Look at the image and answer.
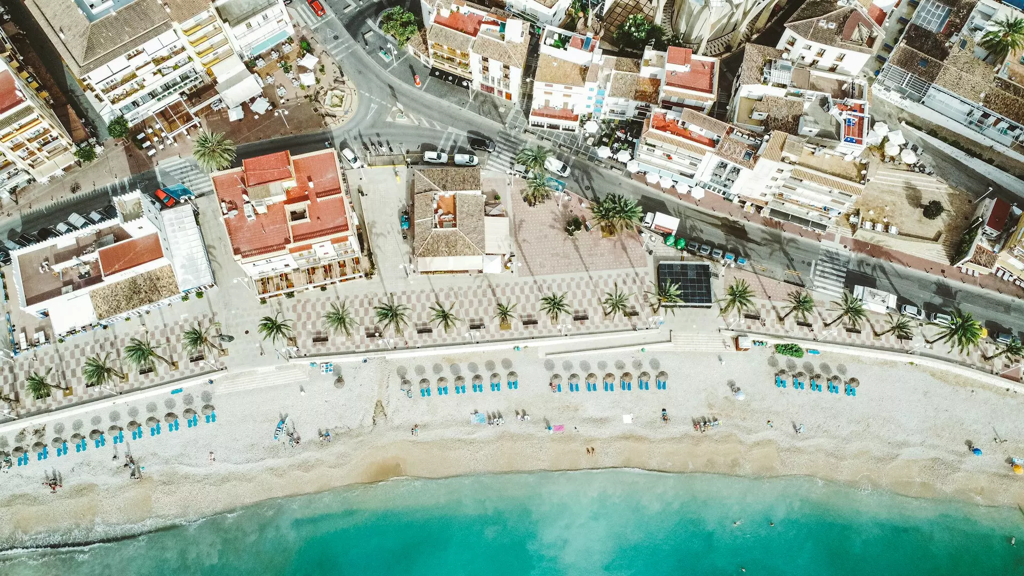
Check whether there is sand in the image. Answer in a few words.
Yes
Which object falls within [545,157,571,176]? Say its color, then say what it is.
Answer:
white car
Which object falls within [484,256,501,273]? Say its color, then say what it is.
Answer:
white umbrella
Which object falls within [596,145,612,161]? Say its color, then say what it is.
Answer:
white umbrella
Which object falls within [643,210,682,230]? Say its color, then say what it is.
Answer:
white vehicle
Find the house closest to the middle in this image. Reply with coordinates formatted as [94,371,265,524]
[414,167,486,260]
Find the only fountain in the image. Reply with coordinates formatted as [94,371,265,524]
[324,89,347,111]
